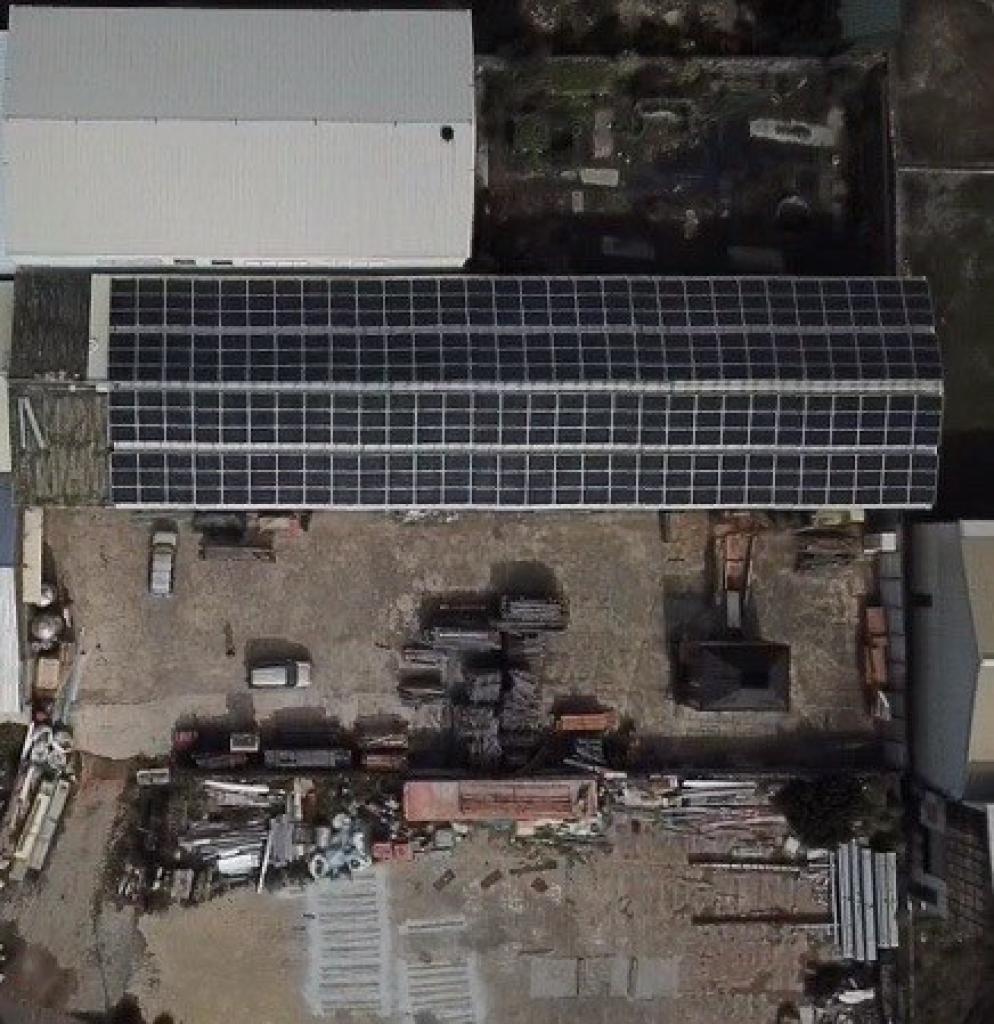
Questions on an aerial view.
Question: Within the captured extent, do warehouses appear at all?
Yes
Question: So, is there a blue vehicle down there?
No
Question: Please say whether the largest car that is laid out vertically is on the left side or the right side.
left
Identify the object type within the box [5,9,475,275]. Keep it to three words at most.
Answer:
warehouse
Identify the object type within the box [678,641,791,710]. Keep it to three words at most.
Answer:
shed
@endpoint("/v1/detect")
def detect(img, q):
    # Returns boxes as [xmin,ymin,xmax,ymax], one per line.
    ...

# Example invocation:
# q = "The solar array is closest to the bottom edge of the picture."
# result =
[111,453,938,505]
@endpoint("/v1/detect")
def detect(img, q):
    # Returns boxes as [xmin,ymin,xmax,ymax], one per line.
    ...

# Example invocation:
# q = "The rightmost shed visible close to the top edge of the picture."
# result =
[828,0,900,62]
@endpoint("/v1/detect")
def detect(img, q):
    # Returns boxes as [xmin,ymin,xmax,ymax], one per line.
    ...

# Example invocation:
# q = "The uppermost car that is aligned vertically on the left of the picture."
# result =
[150,530,181,596]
